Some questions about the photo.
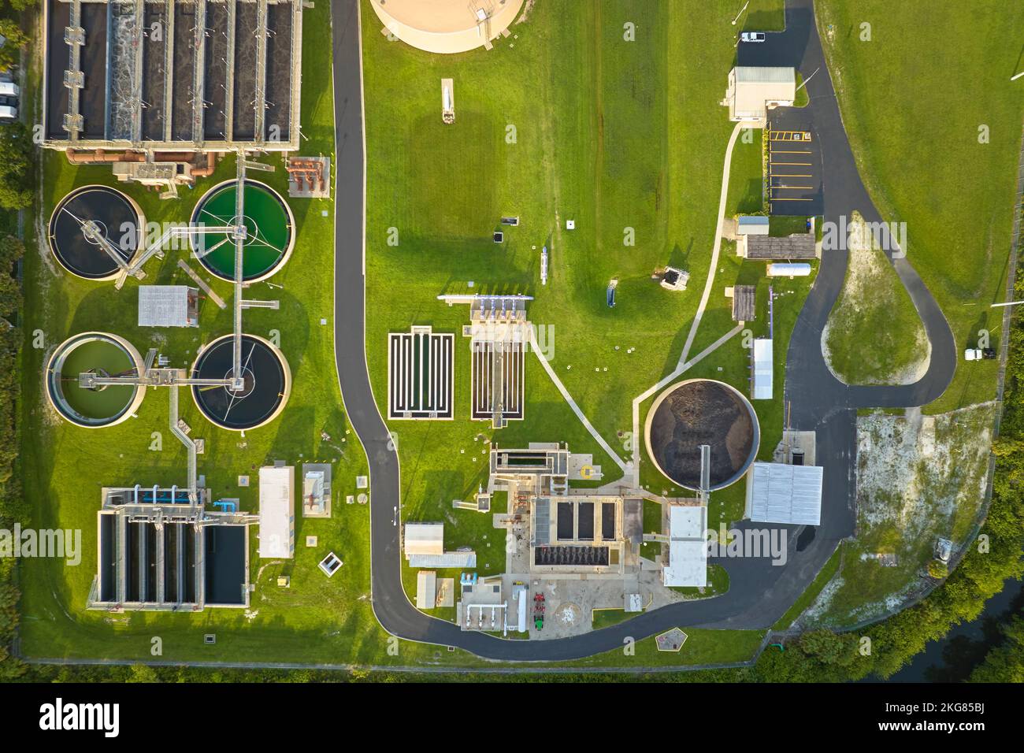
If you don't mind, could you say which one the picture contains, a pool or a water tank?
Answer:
water tank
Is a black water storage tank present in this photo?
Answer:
Yes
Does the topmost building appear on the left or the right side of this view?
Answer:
right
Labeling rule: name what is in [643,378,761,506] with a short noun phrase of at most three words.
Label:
storage tank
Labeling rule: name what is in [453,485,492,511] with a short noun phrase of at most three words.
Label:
shed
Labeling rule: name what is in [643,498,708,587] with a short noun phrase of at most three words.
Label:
building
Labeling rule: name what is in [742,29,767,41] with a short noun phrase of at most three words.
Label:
vehicle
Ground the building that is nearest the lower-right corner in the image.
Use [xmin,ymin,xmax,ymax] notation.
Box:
[742,452,824,526]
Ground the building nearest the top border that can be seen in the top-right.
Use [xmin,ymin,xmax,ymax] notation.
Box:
[719,67,795,120]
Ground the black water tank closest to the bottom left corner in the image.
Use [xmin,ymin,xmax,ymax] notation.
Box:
[191,333,293,430]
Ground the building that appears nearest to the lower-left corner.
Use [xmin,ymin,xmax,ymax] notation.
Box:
[257,459,295,557]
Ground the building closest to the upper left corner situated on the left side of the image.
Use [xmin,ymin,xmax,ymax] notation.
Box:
[118,161,201,200]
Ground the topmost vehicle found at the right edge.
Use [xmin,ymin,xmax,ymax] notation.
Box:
[966,349,1000,361]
